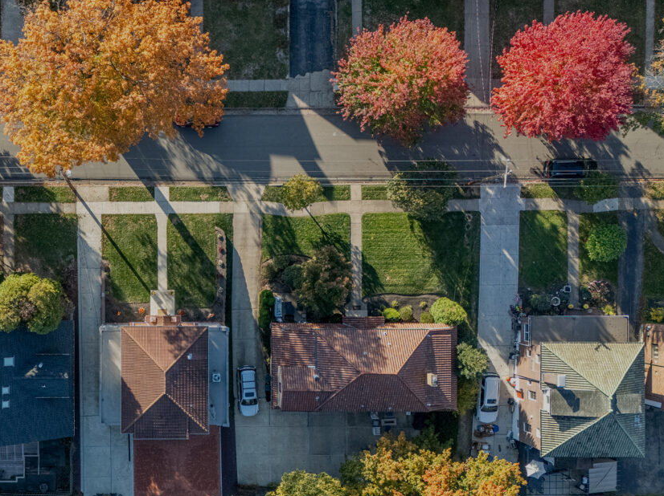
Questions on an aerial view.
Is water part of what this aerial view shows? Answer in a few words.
No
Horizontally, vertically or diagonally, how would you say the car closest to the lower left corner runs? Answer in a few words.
vertically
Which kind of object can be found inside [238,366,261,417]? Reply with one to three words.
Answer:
car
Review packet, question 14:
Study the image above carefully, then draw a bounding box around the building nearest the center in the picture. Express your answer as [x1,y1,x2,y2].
[269,305,457,412]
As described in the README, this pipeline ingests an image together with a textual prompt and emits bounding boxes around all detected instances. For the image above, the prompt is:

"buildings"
[0,311,75,445]
[269,305,457,412]
[98,314,228,496]
[517,315,646,458]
